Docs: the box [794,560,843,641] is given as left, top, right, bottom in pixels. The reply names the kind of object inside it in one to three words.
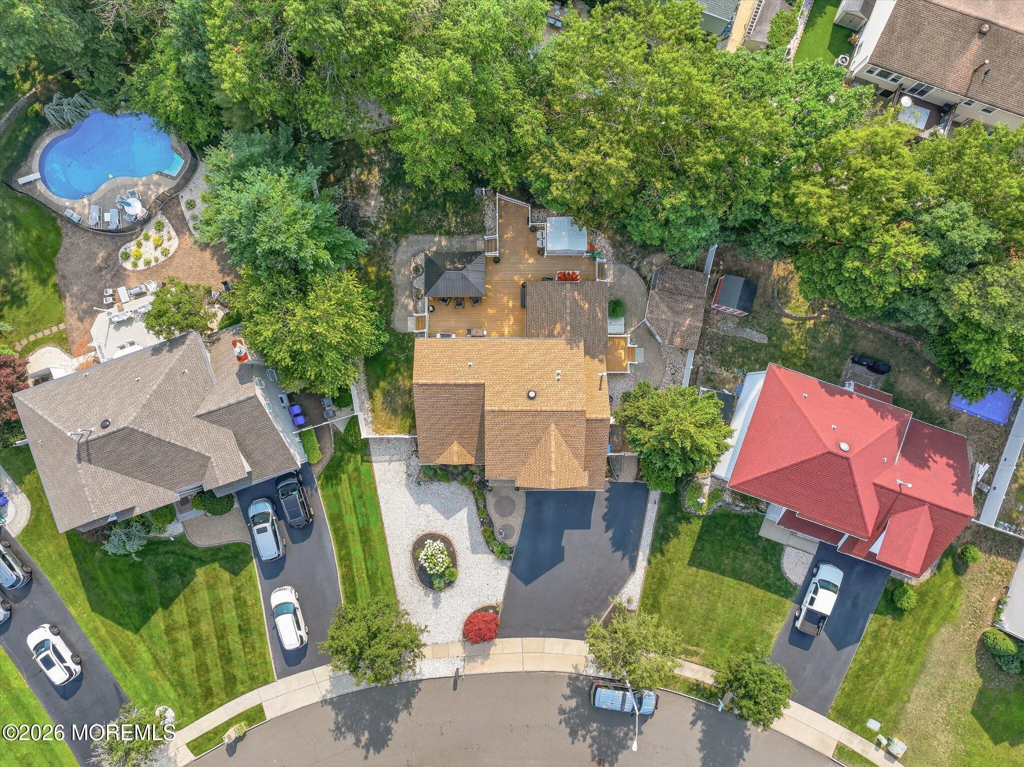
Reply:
truck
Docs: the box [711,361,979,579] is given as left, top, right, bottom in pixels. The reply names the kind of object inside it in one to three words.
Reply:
house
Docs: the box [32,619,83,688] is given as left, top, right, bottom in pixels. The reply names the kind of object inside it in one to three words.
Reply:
car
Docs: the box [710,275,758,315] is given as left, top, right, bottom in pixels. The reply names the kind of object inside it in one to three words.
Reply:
shed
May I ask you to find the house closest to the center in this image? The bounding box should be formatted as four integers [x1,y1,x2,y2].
[413,270,612,491]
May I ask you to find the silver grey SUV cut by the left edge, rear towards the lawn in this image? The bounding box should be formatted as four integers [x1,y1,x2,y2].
[0,534,30,598]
